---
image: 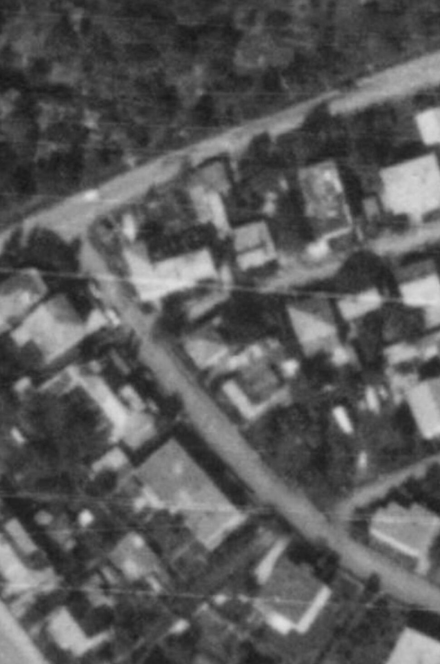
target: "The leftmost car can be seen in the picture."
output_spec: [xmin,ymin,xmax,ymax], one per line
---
[9,427,26,444]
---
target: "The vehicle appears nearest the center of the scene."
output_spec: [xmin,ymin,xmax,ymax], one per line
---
[107,309,121,327]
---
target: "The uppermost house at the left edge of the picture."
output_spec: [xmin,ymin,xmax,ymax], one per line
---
[0,269,45,327]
